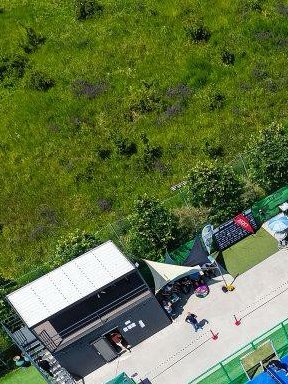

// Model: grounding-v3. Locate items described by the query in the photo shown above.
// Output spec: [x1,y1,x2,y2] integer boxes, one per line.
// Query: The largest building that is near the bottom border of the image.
[7,239,169,379]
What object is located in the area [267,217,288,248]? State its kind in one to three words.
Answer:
umbrella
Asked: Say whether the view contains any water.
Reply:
No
